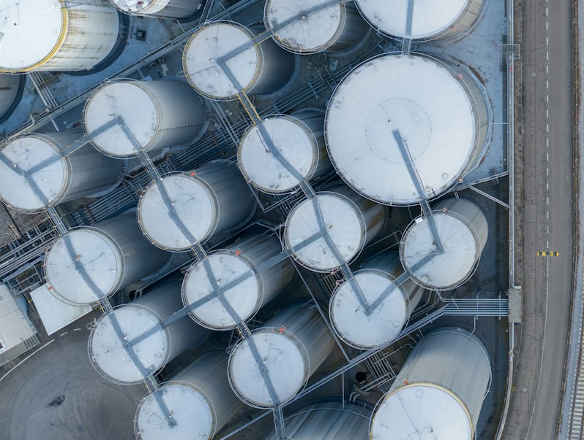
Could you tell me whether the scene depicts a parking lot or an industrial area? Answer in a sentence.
The picture captures an industrial area.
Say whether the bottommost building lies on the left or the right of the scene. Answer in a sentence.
The bottommost building sits on the left side.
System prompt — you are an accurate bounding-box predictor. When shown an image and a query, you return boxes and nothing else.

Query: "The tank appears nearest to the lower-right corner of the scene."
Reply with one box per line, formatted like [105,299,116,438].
[366,320,501,440]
